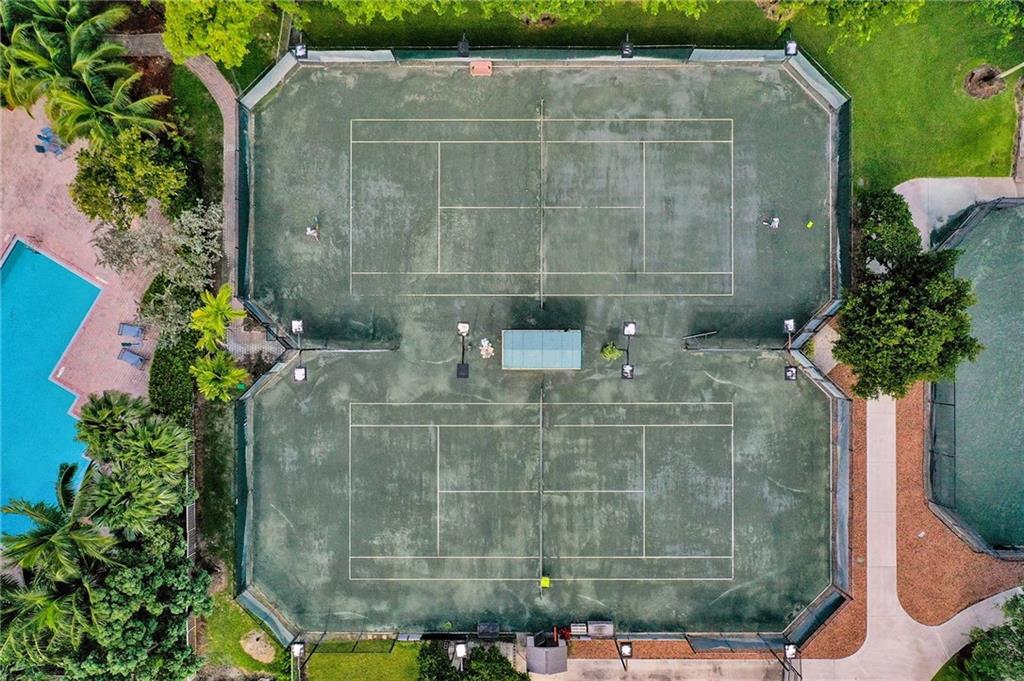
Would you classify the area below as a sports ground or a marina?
sports ground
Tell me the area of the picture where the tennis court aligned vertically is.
right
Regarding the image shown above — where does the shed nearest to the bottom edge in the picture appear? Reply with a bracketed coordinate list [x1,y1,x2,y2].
[527,627,567,676]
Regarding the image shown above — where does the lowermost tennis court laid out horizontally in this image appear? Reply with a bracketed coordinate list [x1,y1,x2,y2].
[251,349,830,633]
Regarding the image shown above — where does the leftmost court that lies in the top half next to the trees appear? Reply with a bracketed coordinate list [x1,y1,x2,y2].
[253,65,830,349]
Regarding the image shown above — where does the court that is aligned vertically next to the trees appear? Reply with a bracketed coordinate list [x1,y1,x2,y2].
[931,201,1024,549]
